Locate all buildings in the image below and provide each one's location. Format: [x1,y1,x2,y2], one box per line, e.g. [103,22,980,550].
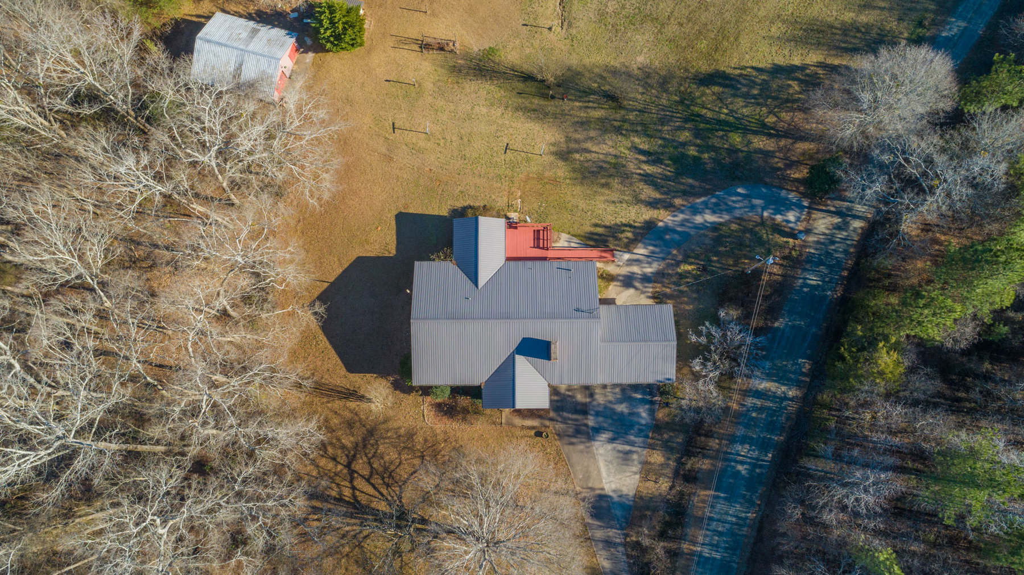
[193,12,303,107]
[343,0,366,15]
[409,215,677,409]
